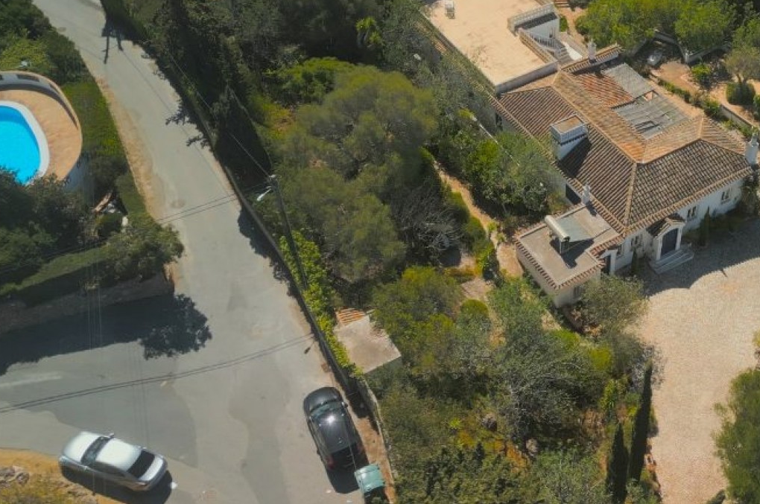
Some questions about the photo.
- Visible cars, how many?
2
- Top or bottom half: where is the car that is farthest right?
bottom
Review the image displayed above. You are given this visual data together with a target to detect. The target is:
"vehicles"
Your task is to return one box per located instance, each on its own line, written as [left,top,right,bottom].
[69,435,166,498]
[306,390,364,477]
